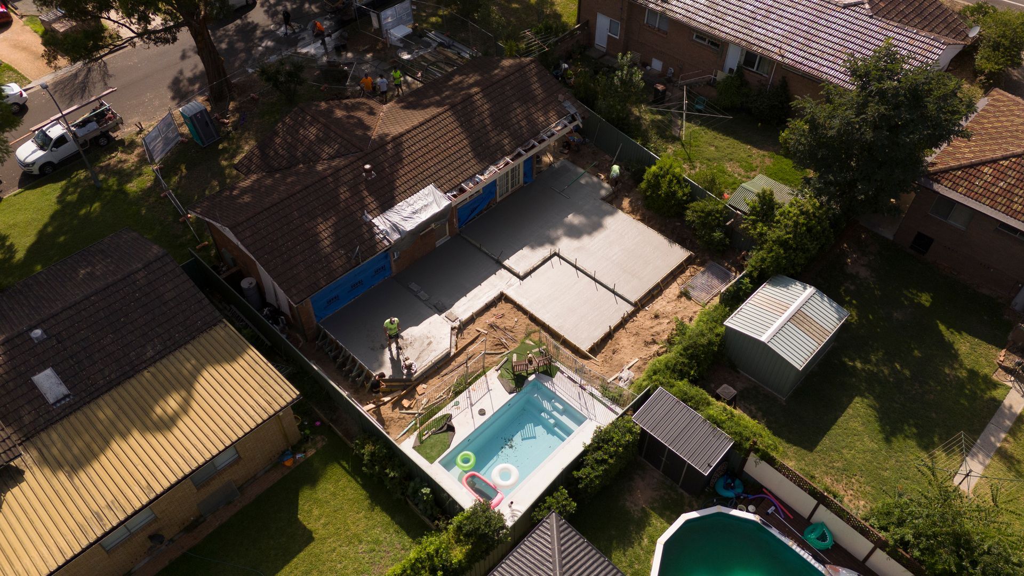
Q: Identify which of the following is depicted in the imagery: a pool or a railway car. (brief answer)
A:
pool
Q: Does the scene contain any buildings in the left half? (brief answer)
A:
Yes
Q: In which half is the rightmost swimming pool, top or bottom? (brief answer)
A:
bottom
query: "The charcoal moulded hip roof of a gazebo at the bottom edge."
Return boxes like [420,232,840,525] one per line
[489,511,627,576]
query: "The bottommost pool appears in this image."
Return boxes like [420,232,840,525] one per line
[658,510,830,576]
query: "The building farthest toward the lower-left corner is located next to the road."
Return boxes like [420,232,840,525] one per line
[0,223,305,576]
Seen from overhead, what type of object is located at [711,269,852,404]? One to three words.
shed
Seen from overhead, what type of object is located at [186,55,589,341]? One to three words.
house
